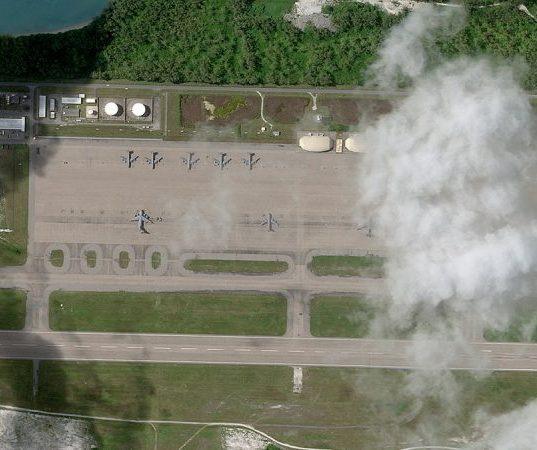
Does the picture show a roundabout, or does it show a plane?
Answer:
plane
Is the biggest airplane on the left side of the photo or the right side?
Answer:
left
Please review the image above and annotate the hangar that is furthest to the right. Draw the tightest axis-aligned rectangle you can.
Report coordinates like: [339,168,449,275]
[346,137,379,154]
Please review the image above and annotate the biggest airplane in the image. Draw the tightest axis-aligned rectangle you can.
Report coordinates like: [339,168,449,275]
[128,209,153,234]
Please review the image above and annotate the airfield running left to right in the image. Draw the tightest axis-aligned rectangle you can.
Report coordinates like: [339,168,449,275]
[0,137,537,397]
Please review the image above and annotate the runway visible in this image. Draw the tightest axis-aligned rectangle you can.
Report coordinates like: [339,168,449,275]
[0,330,537,372]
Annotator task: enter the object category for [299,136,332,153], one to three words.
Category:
hangar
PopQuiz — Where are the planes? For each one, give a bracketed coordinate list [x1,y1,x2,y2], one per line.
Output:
[145,151,162,169]
[261,213,278,231]
[242,153,260,171]
[181,152,199,170]
[121,150,138,168]
[213,153,231,170]
[128,209,153,234]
